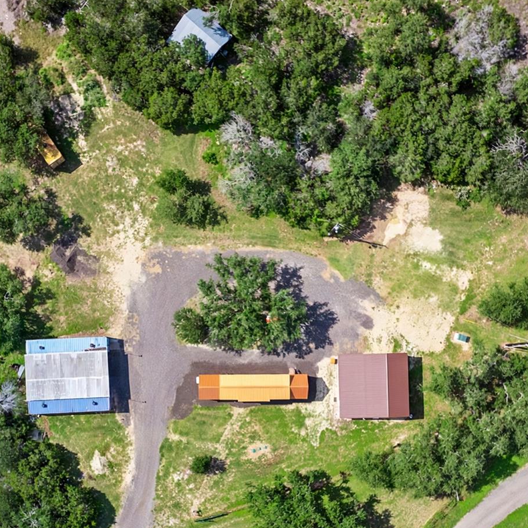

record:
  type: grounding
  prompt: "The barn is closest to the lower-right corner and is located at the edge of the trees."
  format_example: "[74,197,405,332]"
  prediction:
[337,353,410,420]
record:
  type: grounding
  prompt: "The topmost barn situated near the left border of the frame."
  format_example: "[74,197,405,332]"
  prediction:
[24,337,112,415]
